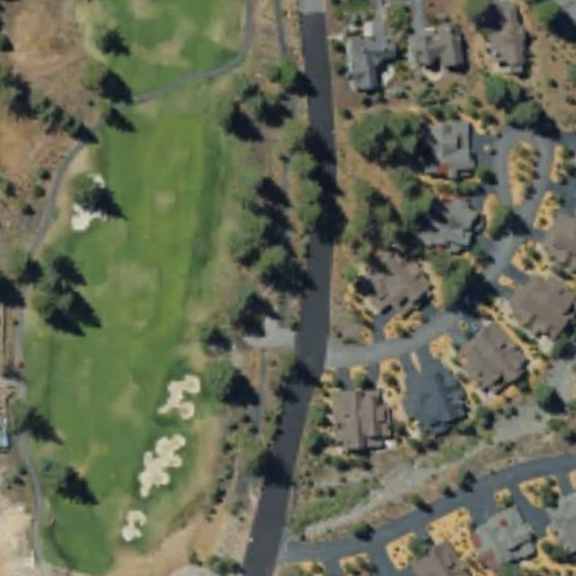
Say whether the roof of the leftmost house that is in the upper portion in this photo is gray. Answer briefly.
Yes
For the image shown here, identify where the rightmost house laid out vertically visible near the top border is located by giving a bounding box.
[490,0,531,74]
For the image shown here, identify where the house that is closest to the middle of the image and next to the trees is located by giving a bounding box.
[371,250,435,315]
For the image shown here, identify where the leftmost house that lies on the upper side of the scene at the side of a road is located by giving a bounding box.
[343,35,399,92]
